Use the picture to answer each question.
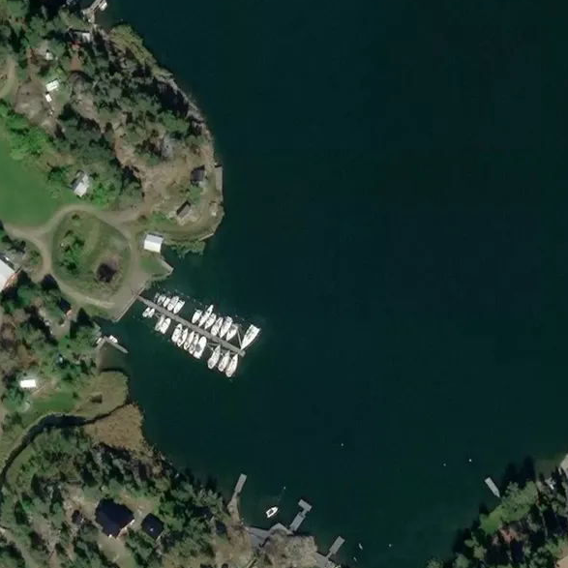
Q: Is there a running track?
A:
No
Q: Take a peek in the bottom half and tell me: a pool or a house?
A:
house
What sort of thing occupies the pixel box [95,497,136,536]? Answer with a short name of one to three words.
house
